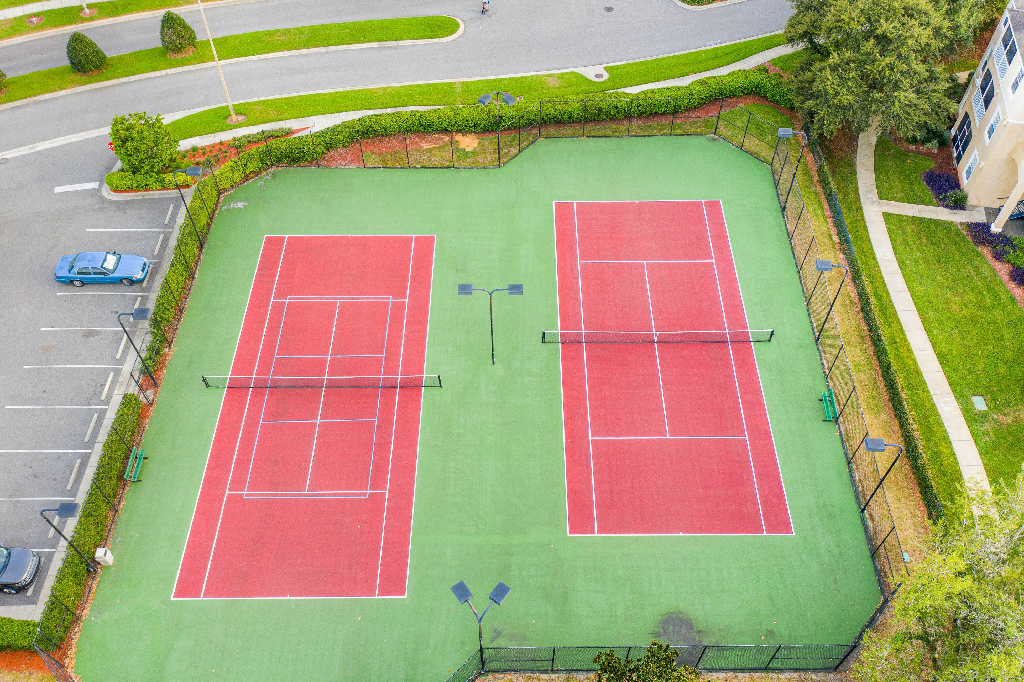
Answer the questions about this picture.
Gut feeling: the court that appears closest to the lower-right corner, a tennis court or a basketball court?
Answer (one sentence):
The court that appears closest to the lower-right corner in the image is a tennis court.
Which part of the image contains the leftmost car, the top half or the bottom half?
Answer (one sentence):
It is in the bottom half that the leftmost car appears.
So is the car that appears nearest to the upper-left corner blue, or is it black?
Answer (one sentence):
The car that appears nearest to the upper-left corner is blue.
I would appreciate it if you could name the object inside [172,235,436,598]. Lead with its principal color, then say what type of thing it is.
red tennis court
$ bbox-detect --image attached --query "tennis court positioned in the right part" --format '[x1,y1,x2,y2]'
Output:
[554,199,794,536]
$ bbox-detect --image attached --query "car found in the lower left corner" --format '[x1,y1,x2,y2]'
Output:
[0,542,40,596]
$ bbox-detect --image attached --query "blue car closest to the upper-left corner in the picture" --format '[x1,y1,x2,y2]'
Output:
[52,249,150,287]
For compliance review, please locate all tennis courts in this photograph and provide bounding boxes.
[554,199,794,536]
[172,235,436,598]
